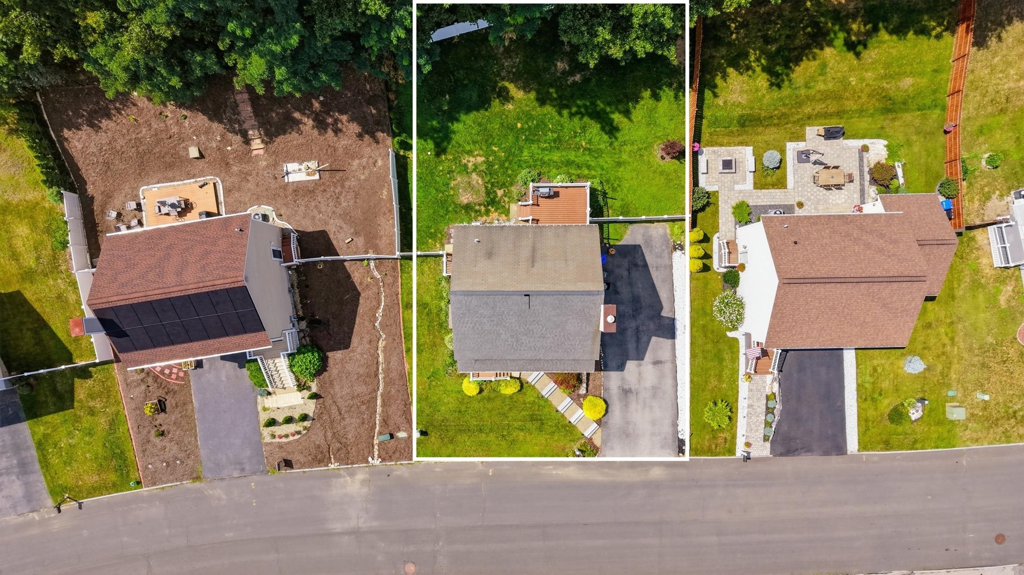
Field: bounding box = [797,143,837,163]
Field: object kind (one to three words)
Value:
umbrella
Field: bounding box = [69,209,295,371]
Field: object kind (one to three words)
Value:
house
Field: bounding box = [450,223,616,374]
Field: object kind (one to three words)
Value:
house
